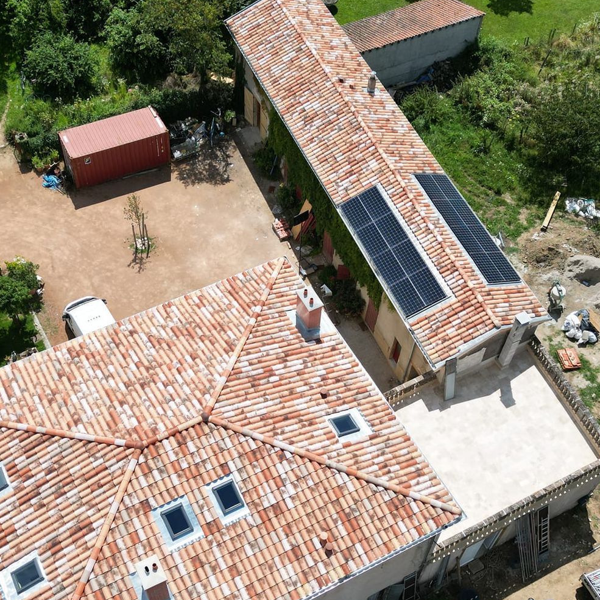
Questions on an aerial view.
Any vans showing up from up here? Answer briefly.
Yes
